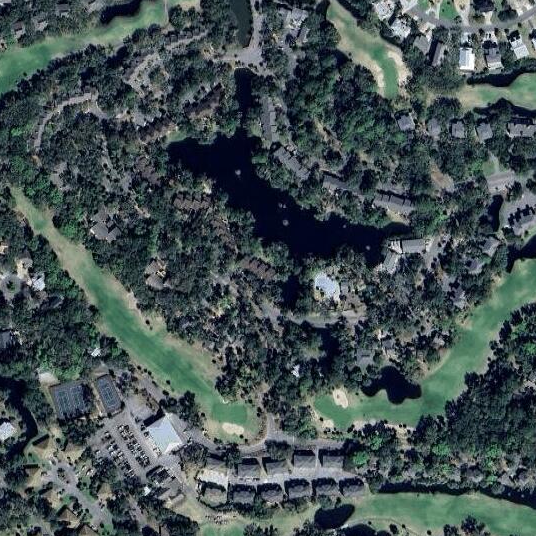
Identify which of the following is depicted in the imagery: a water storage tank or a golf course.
golf course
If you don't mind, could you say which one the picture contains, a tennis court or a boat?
tennis court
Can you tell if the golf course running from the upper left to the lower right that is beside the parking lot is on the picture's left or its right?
left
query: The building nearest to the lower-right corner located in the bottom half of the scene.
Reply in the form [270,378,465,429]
[343,483,366,499]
